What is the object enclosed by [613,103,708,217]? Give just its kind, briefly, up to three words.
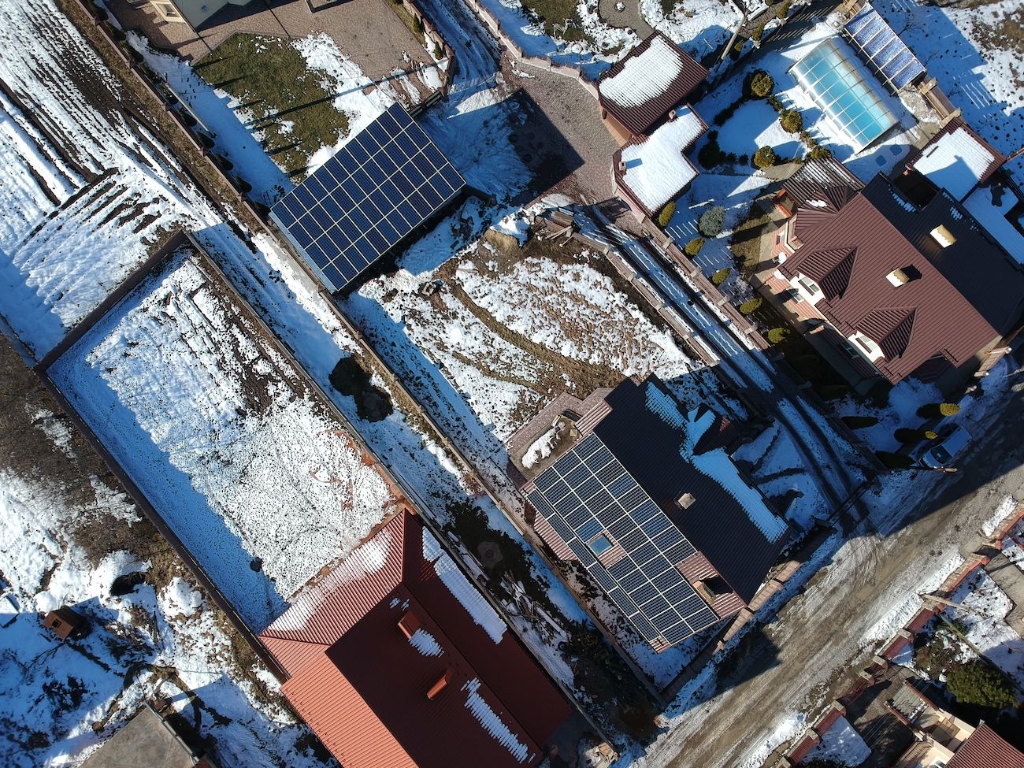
shed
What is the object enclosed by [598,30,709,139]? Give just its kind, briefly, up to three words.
building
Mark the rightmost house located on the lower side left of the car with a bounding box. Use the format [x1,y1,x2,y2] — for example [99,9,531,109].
[510,374,789,654]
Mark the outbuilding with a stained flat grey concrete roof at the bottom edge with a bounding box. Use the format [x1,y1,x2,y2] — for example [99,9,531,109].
[76,696,227,768]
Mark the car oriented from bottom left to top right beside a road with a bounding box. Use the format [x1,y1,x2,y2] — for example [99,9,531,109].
[915,420,983,475]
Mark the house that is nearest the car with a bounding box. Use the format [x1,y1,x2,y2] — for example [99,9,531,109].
[768,149,1024,391]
